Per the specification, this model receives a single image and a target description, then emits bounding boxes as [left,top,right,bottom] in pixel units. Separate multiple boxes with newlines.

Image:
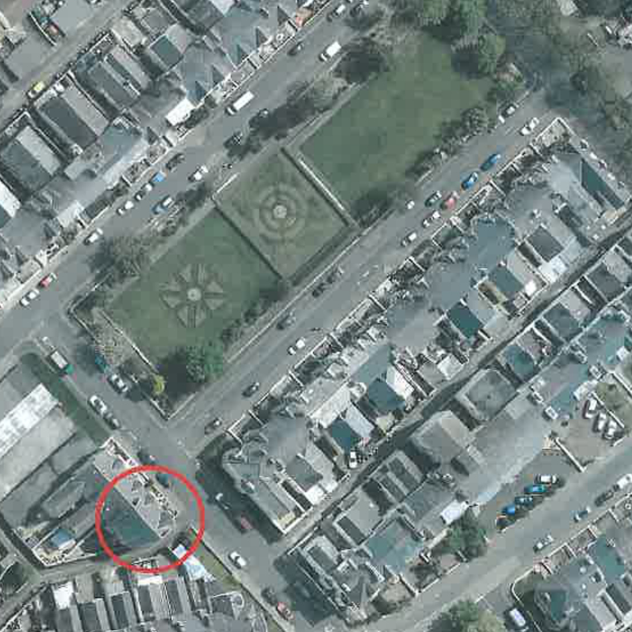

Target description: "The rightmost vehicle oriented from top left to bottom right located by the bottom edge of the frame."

[505,605,530,632]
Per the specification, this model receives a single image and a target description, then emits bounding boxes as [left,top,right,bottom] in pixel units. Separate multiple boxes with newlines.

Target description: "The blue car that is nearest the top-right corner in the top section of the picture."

[482,150,502,169]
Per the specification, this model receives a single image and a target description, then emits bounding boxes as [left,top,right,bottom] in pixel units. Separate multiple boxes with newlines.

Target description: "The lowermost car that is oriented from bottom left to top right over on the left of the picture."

[204,415,224,434]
